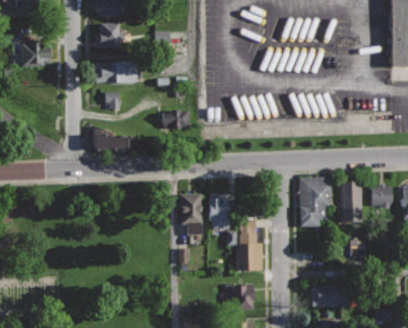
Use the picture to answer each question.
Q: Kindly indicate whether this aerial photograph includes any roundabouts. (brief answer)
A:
No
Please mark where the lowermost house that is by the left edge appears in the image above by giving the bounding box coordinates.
[14,42,51,68]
